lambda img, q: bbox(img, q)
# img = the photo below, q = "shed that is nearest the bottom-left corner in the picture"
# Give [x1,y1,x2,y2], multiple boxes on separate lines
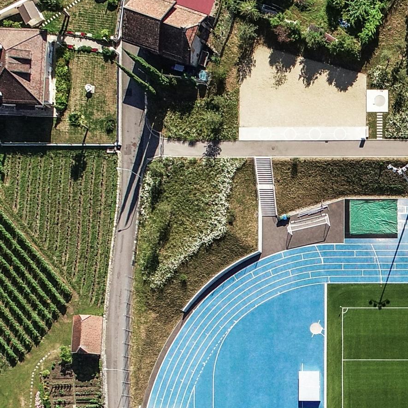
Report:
[71,315,107,355]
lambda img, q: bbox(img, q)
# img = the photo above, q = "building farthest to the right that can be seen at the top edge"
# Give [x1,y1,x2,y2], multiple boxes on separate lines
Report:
[160,5,213,71]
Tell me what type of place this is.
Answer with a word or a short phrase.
sports ground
